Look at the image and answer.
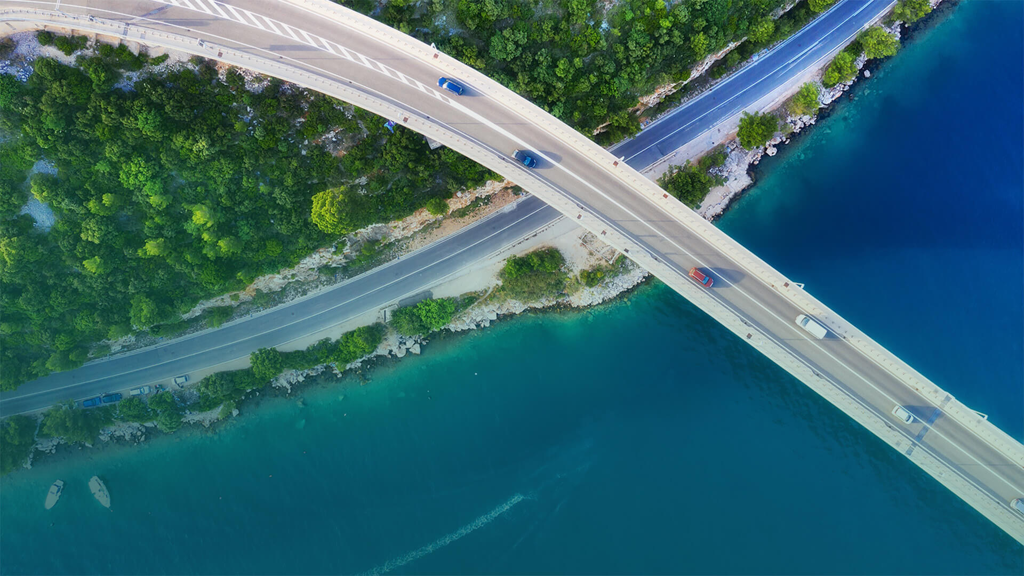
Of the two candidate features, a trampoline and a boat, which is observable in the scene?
boat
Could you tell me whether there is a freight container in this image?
No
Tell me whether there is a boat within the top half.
No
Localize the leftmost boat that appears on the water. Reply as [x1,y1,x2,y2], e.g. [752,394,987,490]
[46,478,67,509]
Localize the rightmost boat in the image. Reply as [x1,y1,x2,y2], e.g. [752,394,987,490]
[89,475,112,508]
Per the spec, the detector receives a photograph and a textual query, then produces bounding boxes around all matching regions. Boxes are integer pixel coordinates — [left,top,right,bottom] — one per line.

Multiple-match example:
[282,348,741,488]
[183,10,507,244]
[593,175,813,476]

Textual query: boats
[46,478,67,509]
[89,475,112,508]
